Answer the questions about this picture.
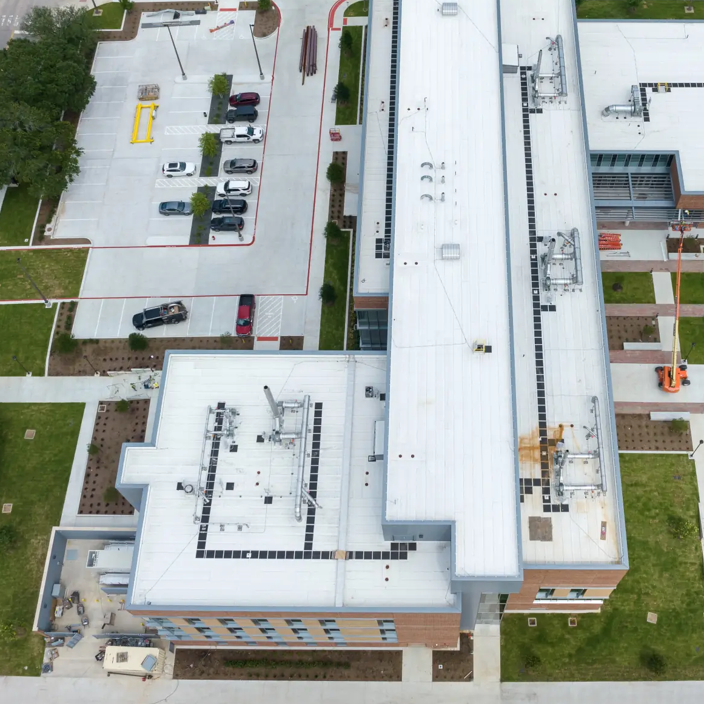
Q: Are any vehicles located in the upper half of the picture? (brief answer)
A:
Yes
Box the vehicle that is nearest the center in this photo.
[235,292,255,337]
